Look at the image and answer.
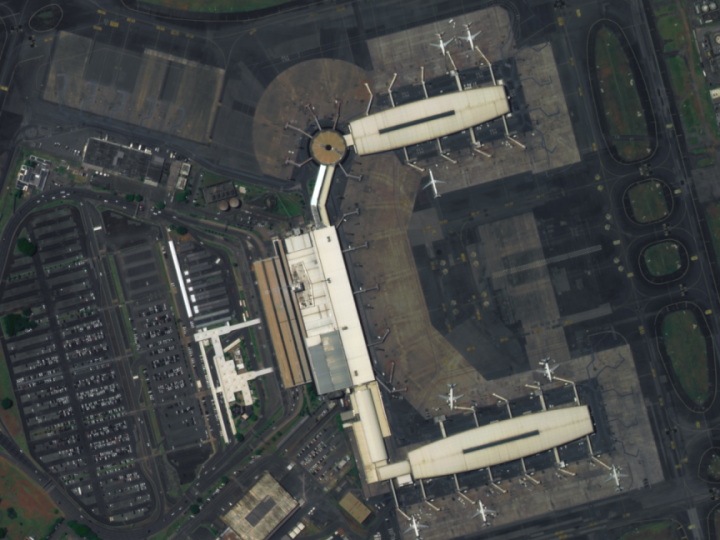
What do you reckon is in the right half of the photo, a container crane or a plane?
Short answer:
plane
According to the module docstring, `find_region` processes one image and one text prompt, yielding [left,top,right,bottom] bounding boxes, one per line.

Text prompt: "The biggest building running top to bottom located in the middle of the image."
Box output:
[285,225,376,395]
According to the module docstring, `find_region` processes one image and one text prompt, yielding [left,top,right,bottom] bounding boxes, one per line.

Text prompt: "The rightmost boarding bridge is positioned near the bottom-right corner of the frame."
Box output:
[587,435,614,472]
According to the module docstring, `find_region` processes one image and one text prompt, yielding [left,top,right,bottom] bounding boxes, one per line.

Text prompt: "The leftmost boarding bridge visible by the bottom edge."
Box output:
[390,479,413,522]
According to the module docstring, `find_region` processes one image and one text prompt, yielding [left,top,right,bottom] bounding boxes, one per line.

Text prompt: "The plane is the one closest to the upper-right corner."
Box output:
[457,24,481,51]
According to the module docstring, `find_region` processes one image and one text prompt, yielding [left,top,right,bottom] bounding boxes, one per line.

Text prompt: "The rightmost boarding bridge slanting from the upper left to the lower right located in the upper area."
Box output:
[503,114,527,149]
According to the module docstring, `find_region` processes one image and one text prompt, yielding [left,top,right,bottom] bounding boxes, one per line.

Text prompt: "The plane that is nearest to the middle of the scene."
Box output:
[423,169,449,198]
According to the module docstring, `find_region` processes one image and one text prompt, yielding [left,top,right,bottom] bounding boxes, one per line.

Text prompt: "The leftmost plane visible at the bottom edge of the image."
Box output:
[405,516,431,540]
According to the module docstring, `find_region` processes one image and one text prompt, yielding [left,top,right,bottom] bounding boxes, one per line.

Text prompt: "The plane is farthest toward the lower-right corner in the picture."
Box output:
[606,465,631,493]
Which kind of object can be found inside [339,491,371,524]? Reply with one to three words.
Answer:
building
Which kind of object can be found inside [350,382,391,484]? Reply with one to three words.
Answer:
building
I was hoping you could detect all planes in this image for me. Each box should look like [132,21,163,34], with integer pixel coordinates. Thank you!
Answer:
[457,24,481,51]
[405,516,431,540]
[430,32,452,56]
[440,384,464,410]
[473,501,497,527]
[423,169,449,198]
[536,356,558,382]
[606,465,631,493]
